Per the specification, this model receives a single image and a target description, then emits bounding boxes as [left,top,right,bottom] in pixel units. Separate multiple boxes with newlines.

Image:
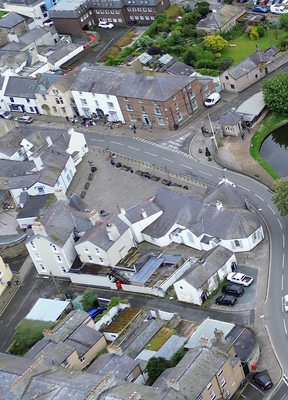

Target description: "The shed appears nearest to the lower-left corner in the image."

[26,301,69,329]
